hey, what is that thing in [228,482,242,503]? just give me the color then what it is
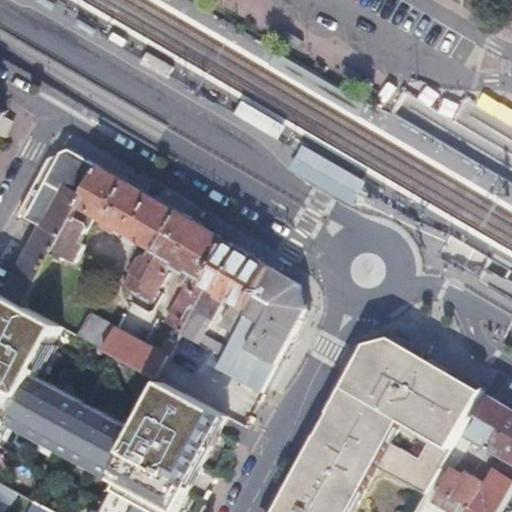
gray car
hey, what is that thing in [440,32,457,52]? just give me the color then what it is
white car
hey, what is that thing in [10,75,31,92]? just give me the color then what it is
white car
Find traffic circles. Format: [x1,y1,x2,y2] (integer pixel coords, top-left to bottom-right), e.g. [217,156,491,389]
[350,251,386,288]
